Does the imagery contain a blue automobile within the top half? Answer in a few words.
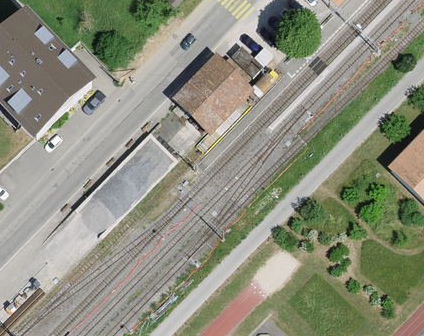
Yes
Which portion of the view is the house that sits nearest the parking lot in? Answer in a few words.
top left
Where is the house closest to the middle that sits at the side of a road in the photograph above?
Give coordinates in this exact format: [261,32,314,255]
[172,52,254,134]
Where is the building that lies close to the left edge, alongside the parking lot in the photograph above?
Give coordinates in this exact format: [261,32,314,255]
[0,5,97,143]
